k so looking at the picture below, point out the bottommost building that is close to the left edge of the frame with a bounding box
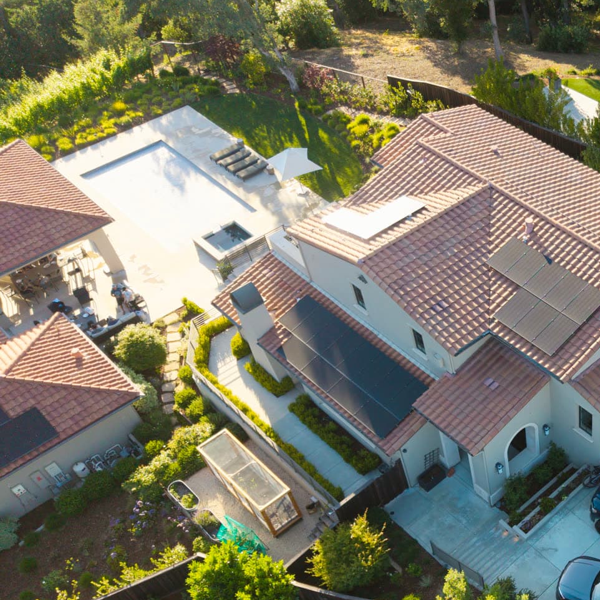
[0,311,145,515]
